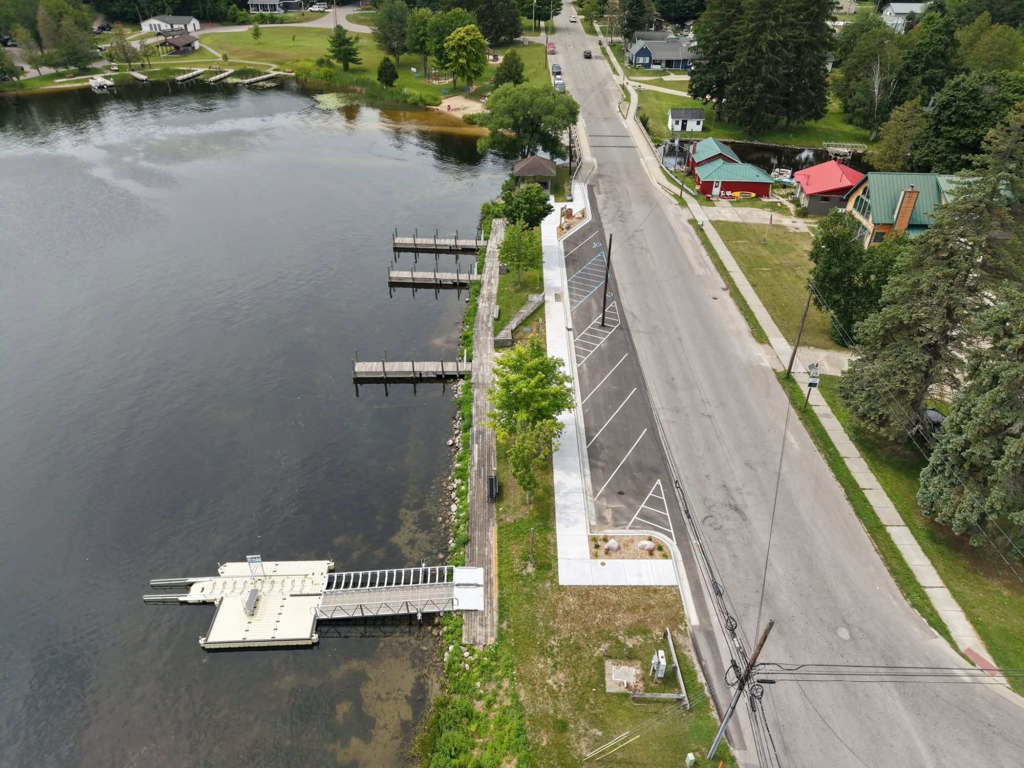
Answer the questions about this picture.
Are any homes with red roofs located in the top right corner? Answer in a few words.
Yes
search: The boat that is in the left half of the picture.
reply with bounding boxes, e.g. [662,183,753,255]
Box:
[91,72,109,85]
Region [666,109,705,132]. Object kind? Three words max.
shed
